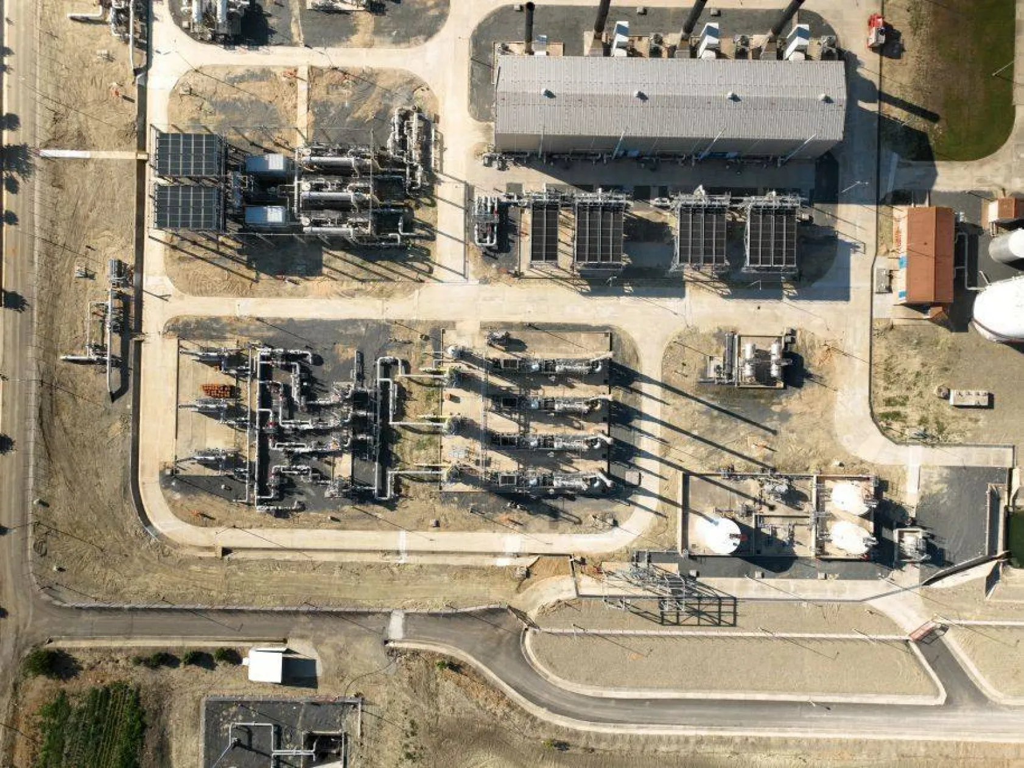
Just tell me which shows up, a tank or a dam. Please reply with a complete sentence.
The image shows a tank.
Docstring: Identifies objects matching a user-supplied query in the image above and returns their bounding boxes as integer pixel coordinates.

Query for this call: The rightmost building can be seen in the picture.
[990,196,1024,226]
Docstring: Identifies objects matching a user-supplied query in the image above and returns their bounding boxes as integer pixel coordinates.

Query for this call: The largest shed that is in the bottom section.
[245,643,288,683]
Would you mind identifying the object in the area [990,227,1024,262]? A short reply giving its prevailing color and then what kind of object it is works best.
white storage tank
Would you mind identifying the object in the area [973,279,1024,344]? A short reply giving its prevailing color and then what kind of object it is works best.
white storage tank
